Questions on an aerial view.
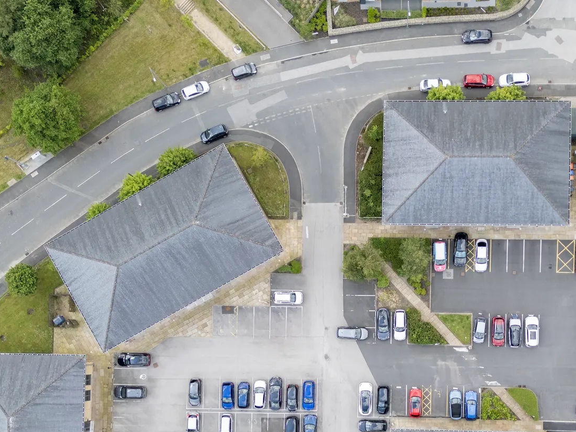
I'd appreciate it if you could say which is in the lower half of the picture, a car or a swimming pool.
car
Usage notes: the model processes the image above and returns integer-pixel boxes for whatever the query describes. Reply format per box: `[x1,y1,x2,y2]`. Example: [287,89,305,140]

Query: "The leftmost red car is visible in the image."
[408,388,424,418]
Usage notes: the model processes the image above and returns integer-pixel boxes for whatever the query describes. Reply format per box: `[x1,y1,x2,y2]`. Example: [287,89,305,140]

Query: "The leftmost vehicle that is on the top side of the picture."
[151,93,181,112]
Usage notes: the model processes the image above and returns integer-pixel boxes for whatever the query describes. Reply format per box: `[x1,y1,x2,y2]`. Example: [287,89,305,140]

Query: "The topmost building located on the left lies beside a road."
[42,142,285,354]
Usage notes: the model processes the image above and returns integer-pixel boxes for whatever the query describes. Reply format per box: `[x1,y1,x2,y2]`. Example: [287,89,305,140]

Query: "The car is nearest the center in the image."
[273,290,303,304]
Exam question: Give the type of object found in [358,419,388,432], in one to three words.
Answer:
vehicle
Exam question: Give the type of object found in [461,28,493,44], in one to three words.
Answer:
car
